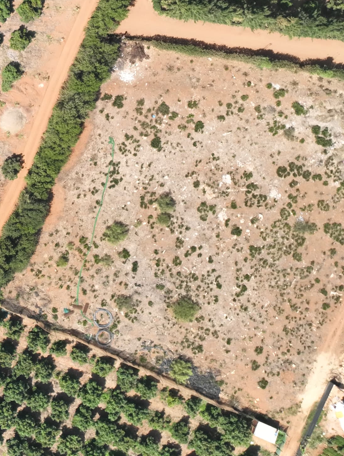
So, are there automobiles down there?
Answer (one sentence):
No, there appears to be no automobile in this shot.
